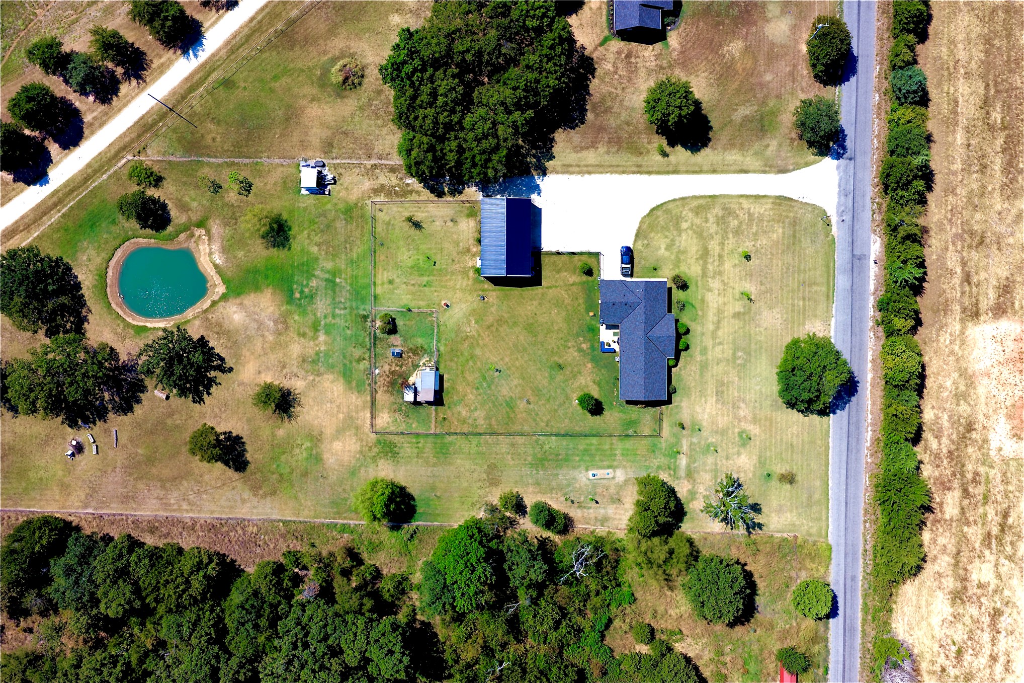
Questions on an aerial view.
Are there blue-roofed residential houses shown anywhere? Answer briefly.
Yes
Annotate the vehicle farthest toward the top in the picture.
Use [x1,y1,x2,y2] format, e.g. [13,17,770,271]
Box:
[620,246,633,277]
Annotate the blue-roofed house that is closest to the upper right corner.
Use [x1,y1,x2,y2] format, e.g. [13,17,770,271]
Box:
[610,0,674,42]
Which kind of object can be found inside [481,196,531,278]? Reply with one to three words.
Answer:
barn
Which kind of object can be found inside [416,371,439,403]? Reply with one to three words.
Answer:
house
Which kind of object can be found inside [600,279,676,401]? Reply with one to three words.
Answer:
house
